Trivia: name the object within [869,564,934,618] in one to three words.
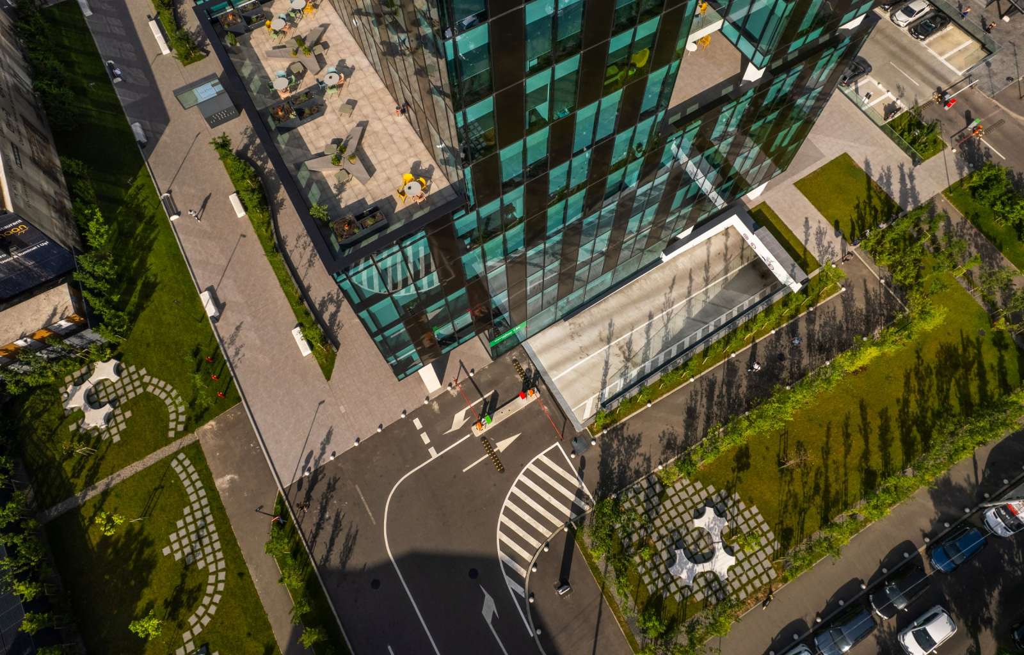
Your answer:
car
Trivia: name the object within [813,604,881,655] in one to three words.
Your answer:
car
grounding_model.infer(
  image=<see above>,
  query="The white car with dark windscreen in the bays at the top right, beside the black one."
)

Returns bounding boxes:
[893,1,929,27]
